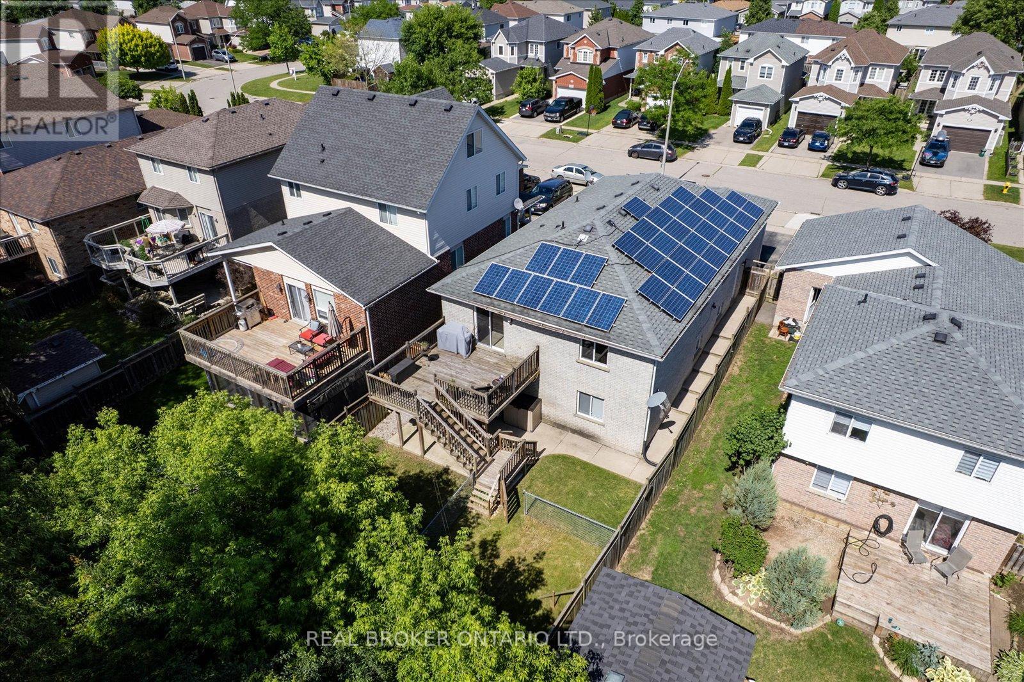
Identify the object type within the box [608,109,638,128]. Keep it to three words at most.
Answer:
car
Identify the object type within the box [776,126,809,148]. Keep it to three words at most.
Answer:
car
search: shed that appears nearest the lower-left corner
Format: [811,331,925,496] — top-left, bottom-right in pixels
[0,320,113,430]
